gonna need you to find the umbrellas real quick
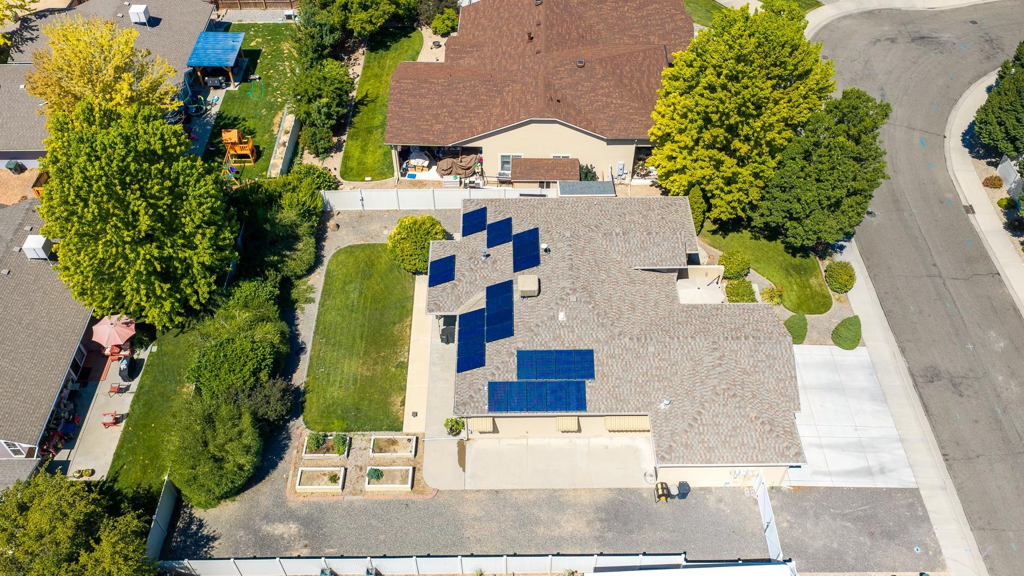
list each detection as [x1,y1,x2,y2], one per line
[678,271,728,303]
[90,309,142,346]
